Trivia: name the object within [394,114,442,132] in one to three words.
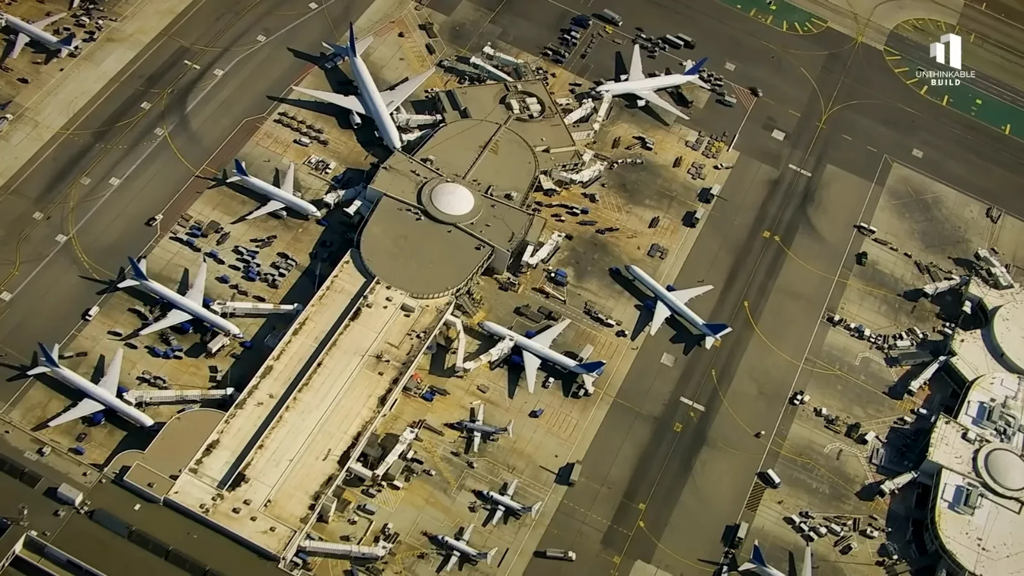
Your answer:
jet bridge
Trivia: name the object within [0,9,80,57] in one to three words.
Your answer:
airplane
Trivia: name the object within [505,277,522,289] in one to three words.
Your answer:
vehicle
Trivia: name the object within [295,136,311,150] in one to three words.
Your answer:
vehicle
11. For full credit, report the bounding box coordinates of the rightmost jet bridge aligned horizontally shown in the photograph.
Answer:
[914,274,970,301]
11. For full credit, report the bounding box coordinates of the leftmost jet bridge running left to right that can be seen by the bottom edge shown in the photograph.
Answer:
[298,539,393,575]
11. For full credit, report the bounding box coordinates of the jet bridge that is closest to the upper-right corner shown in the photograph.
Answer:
[968,244,1005,274]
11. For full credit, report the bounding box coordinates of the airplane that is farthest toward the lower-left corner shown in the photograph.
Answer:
[30,345,155,428]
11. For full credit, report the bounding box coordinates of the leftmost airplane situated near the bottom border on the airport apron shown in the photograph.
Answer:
[438,523,500,573]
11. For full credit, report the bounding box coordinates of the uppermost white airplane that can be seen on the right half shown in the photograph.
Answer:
[595,43,717,120]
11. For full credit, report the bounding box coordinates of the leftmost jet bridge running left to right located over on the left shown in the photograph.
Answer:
[118,386,237,410]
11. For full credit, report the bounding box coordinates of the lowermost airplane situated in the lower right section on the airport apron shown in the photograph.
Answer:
[748,533,825,576]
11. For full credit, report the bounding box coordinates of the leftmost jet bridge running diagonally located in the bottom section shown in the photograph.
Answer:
[346,424,419,485]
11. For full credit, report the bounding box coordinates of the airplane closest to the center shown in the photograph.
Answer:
[477,316,603,391]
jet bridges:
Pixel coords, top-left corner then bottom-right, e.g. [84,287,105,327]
[477,44,527,68]
[298,539,393,575]
[394,114,442,132]
[914,274,970,301]
[400,126,435,150]
[551,159,611,189]
[563,95,594,127]
[464,54,518,83]
[447,316,519,375]
[346,424,419,485]
[322,185,368,210]
[338,198,366,222]
[208,299,303,322]
[518,229,569,271]
[118,386,237,410]
[896,356,947,398]
[436,58,489,85]
[968,244,1005,274]
[592,90,615,140]
[0,16,11,47]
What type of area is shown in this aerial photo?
airport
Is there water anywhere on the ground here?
No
